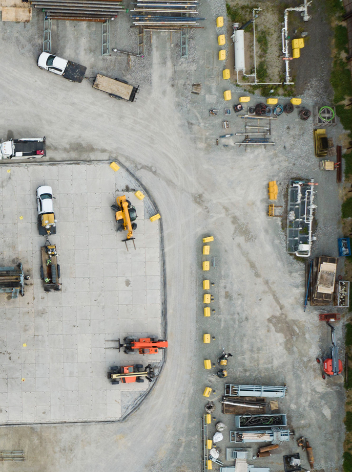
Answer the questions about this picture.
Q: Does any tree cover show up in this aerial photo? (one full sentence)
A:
No, there's no tree cover in this view.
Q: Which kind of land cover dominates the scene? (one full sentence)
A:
The scene is dominated by paved ground.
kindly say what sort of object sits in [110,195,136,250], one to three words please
work vehicle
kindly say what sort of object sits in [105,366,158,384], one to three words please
work vehicle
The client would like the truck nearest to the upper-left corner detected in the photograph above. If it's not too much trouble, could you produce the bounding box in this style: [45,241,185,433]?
[35,53,86,85]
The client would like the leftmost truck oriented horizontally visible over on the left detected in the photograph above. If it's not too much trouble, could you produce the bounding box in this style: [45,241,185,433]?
[0,137,48,159]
